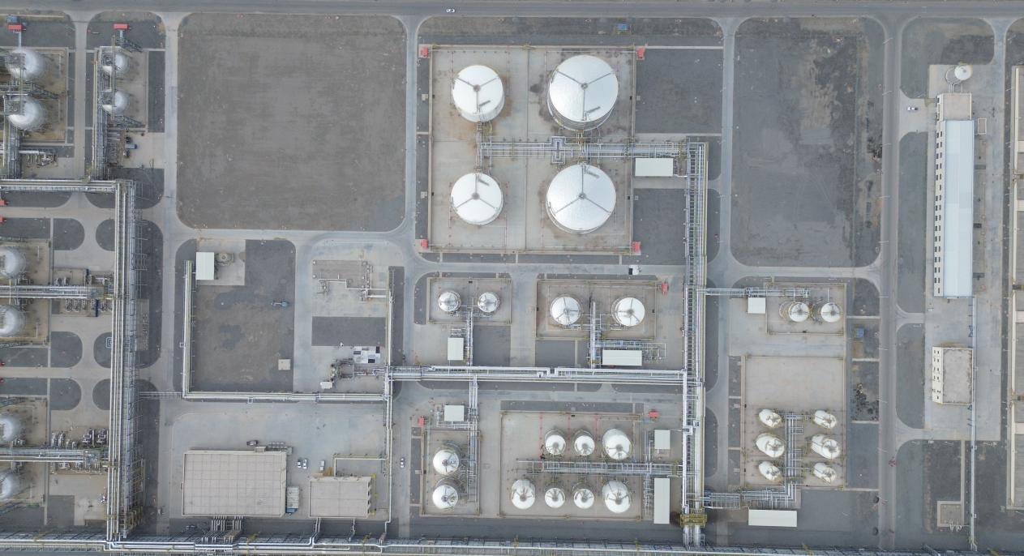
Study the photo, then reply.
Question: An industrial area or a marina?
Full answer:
It's an industrial area.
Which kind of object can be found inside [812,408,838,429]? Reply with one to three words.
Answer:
silo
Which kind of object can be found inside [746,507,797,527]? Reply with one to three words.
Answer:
shed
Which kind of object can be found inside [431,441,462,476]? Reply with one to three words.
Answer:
storage tank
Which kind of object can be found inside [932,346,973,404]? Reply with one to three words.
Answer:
building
